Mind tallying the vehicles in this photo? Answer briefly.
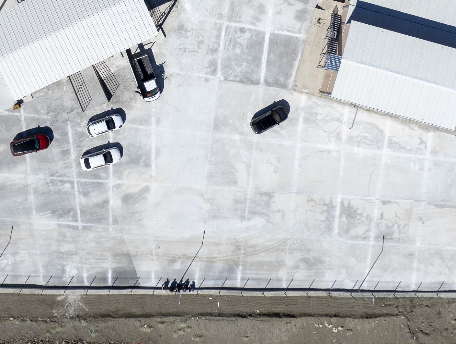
5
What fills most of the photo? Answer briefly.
paved ground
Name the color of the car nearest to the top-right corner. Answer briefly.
black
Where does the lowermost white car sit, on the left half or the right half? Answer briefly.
left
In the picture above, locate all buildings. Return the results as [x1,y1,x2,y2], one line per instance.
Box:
[319,20,456,132]
[0,0,158,101]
